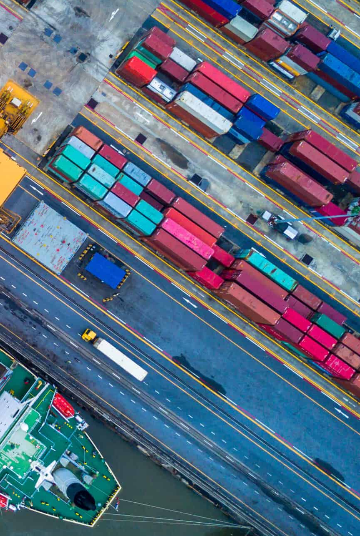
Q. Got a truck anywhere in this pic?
Yes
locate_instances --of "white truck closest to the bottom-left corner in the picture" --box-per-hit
[79,327,149,382]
